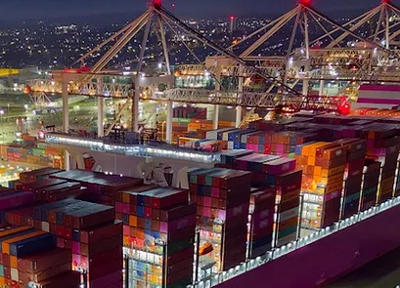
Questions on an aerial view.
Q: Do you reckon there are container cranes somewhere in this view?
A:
Yes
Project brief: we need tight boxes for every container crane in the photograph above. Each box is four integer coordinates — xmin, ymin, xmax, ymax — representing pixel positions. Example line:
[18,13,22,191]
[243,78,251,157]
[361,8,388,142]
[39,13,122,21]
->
[175,1,400,127]
[22,3,344,141]
[268,1,400,106]
[341,27,400,83]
